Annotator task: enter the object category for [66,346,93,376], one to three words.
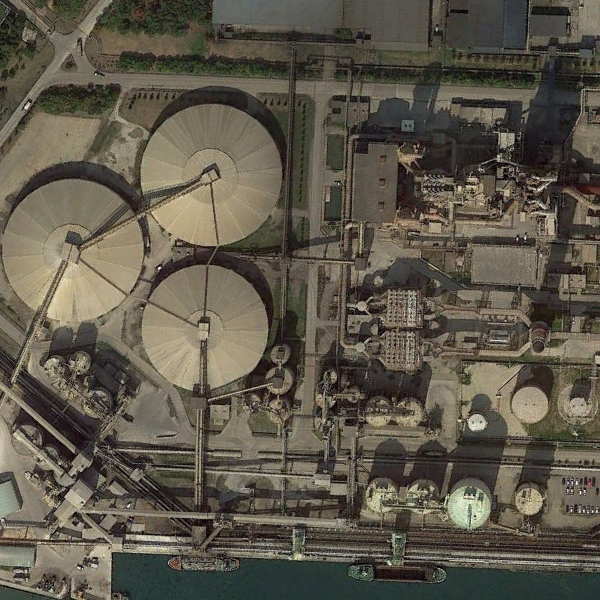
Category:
silo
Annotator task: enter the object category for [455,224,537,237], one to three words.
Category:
building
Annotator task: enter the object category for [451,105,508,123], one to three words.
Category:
shed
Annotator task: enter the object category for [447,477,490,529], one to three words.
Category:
storage tank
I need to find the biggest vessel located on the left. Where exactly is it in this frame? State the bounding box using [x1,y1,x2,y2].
[158,553,246,572]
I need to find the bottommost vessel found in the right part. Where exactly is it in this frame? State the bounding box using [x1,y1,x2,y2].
[337,561,461,583]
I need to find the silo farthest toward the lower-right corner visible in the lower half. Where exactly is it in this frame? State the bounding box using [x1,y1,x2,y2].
[513,481,543,516]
